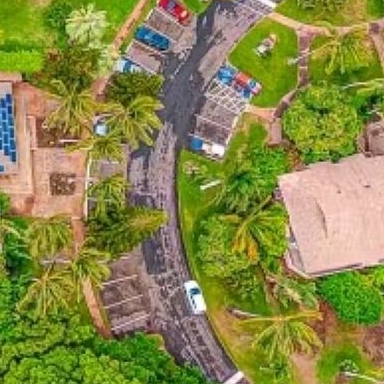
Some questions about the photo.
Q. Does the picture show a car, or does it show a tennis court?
car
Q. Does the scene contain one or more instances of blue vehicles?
Yes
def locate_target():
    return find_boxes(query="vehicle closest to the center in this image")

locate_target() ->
[188,135,229,163]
